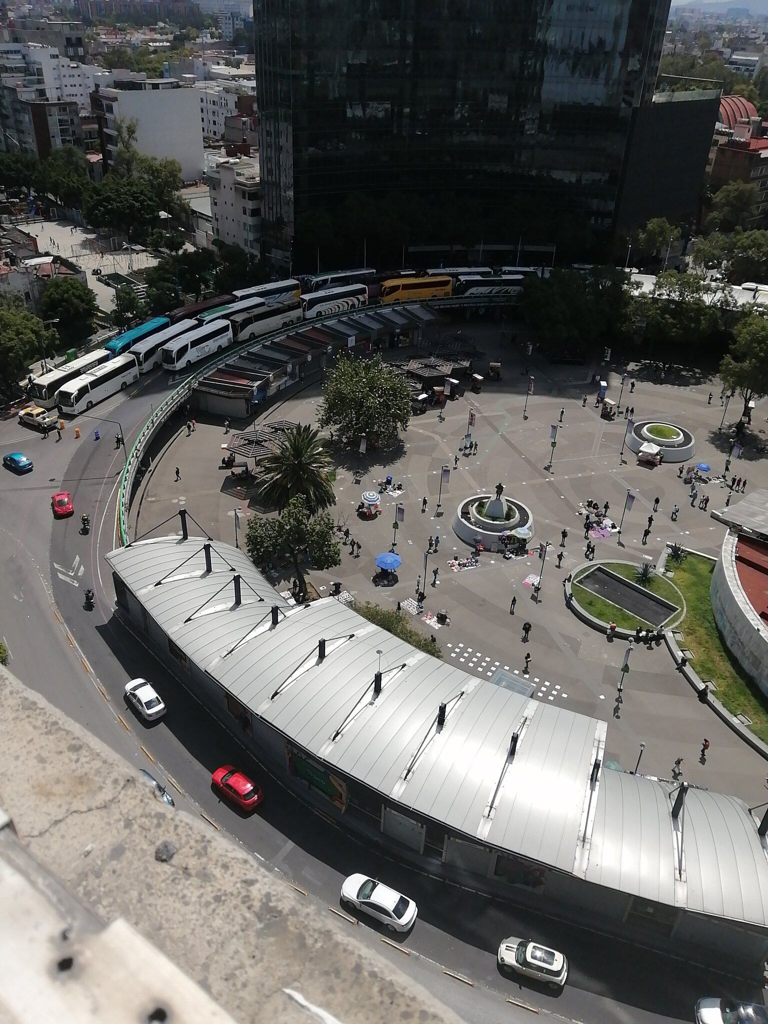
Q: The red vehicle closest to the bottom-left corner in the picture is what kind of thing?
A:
car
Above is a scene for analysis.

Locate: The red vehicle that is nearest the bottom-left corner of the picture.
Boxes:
[206,767,266,816]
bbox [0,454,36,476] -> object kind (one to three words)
car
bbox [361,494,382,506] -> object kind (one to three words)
umbrella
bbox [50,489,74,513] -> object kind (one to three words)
car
